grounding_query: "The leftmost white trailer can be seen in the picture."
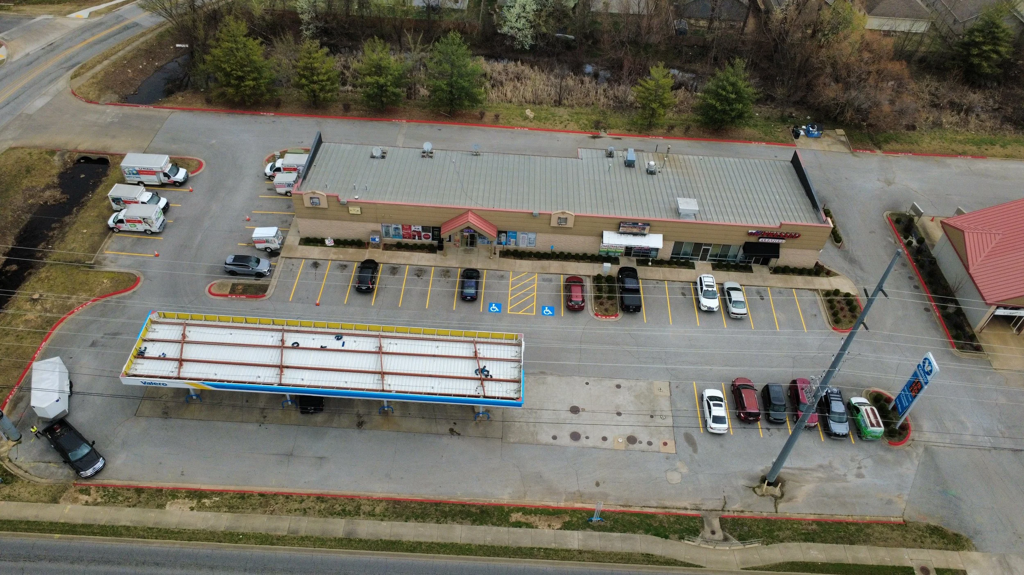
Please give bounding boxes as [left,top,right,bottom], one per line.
[30,355,72,426]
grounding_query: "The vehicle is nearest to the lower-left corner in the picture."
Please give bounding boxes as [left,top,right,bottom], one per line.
[40,419,108,478]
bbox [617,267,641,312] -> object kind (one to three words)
truck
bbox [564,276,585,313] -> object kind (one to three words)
car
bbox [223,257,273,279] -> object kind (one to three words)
car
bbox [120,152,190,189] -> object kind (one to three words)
truck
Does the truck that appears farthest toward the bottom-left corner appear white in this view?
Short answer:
No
